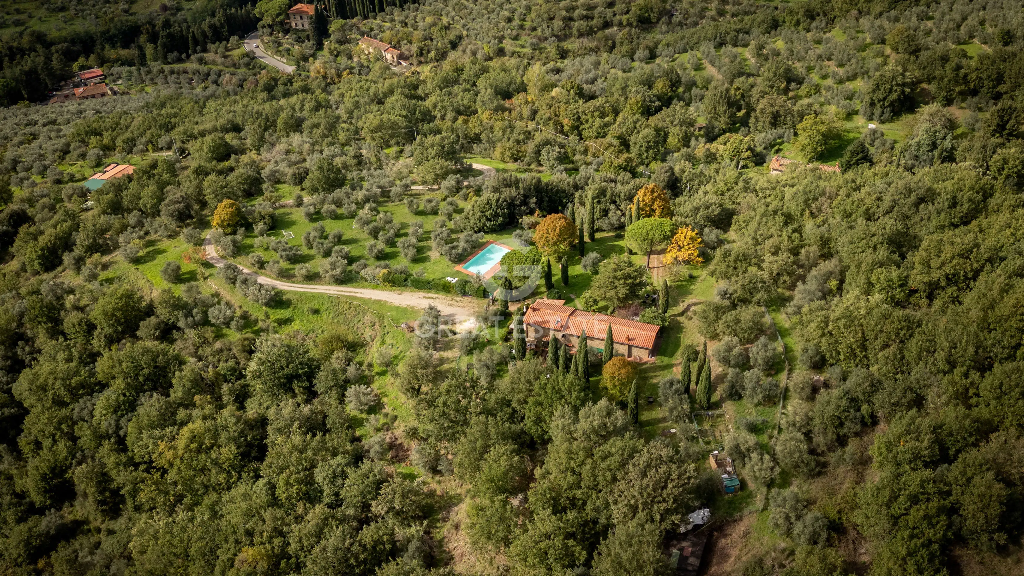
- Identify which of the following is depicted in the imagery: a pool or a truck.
pool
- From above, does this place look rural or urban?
rural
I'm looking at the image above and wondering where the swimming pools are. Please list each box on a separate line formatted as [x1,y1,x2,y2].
[454,240,521,279]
